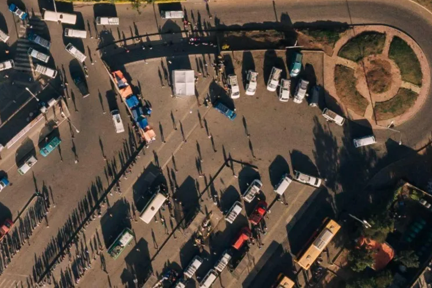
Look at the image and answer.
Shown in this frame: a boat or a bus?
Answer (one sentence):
The one in the frame is a bus.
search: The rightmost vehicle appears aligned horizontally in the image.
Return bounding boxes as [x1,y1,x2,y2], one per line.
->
[351,135,375,148]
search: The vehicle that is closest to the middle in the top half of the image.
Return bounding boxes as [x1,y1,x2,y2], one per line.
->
[211,102,236,120]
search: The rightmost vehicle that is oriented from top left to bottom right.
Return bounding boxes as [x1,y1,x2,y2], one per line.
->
[320,105,345,125]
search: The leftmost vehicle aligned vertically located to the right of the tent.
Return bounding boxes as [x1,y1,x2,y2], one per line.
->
[226,74,239,97]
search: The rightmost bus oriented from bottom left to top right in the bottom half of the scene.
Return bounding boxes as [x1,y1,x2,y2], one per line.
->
[290,214,342,269]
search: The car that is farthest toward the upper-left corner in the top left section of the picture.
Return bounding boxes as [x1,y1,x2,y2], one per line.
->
[7,2,28,21]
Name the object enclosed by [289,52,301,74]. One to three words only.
vehicle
